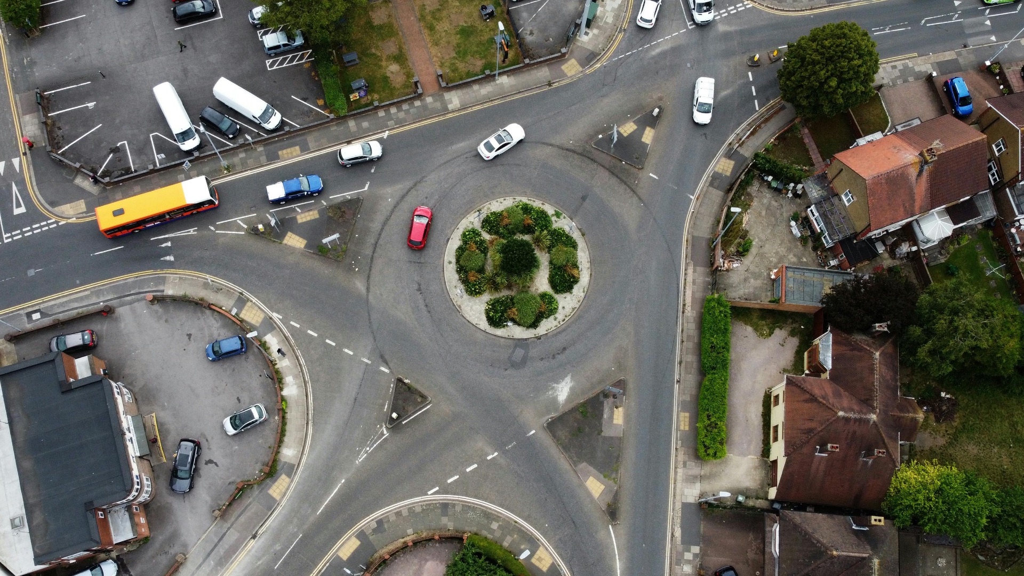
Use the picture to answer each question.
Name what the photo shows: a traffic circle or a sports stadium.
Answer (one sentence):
The one in the frame is a traffic circle.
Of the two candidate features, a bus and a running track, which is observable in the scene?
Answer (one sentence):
Looking from above, you can make out a bus.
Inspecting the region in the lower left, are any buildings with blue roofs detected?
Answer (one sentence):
No, no building with a blue roof is visible in the lower left.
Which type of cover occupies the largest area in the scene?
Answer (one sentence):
The bulk of the photo consists of paved ground.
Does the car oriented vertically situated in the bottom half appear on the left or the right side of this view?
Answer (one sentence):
It is on the left.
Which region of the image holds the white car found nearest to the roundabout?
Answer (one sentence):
The white car found nearest to the roundabout sits in the top section of the image.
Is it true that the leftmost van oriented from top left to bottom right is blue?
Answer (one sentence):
No, the leftmost van oriented from top left to bottom right is actually white.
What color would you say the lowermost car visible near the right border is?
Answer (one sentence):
The color of the lowermost car visible near the right border is blue.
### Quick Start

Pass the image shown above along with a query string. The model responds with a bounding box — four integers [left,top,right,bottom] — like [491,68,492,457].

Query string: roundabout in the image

[443,199,591,340]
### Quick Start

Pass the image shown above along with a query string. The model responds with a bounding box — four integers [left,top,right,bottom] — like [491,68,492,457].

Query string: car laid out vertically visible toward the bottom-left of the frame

[165,436,200,493]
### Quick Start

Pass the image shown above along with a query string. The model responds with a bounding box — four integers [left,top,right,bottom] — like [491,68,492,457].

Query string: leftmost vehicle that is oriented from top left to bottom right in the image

[145,79,197,150]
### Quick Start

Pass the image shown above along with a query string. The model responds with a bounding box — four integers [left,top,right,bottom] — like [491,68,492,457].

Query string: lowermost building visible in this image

[757,510,905,576]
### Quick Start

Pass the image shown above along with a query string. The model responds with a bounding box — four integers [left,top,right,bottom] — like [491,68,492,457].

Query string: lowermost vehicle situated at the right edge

[948,74,978,113]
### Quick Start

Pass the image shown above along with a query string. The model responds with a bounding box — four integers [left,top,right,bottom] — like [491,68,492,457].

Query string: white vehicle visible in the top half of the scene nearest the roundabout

[478,121,526,159]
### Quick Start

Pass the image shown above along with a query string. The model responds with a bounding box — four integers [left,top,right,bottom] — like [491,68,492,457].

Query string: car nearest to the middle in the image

[407,205,432,248]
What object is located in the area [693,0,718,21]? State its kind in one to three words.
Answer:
vehicle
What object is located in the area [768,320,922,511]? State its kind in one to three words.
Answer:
house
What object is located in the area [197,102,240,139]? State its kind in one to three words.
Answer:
car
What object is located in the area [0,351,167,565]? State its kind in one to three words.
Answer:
building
